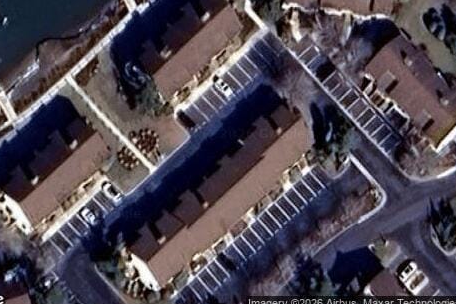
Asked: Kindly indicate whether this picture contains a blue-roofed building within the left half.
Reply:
No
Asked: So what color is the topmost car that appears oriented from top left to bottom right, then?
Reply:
white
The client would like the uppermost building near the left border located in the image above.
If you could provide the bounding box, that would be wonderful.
[6,121,115,236]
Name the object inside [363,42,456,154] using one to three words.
building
